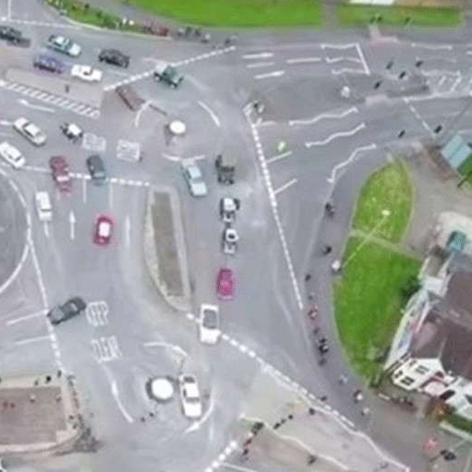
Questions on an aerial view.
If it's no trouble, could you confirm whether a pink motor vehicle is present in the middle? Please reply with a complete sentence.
Yes, a pink motor vehicle can be seen in the middle.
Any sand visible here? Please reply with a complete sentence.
No, the picture contains no sand.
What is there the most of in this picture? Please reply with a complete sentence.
Most of the picture is covered by paved ground.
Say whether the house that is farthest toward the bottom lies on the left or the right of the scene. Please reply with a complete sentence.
The house that is farthest toward the bottom is on the right side of the image.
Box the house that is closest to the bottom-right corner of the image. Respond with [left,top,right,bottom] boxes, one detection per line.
[392,277,472,426]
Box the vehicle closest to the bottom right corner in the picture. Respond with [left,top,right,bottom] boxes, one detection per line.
[444,227,471,255]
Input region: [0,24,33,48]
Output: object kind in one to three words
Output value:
car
